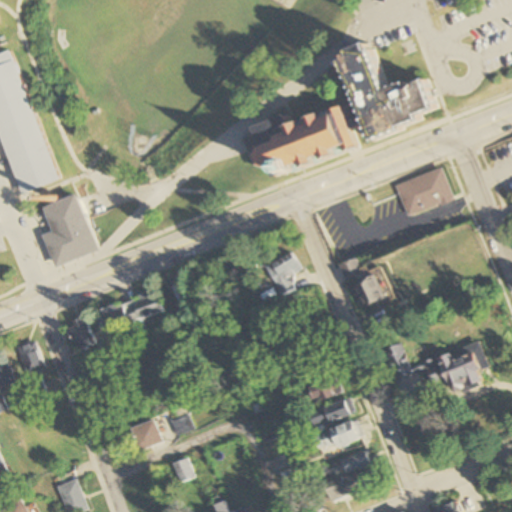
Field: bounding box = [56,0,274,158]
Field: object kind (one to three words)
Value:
sports field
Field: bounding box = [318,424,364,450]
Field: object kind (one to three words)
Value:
house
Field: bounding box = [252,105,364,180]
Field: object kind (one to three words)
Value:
building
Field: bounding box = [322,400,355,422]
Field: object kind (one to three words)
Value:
house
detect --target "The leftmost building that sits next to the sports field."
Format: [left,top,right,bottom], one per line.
[0,50,63,188]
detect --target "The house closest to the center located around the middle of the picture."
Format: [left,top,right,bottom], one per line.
[266,252,304,296]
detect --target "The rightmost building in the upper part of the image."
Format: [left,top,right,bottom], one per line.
[396,167,454,217]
